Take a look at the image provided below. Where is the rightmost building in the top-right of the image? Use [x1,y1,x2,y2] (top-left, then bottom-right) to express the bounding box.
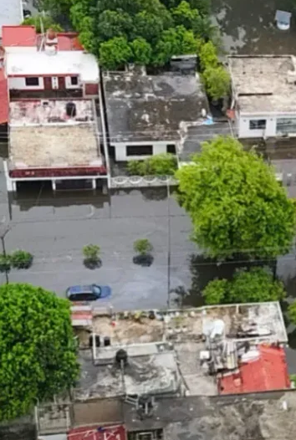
[227,53,296,140]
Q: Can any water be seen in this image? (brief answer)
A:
Yes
